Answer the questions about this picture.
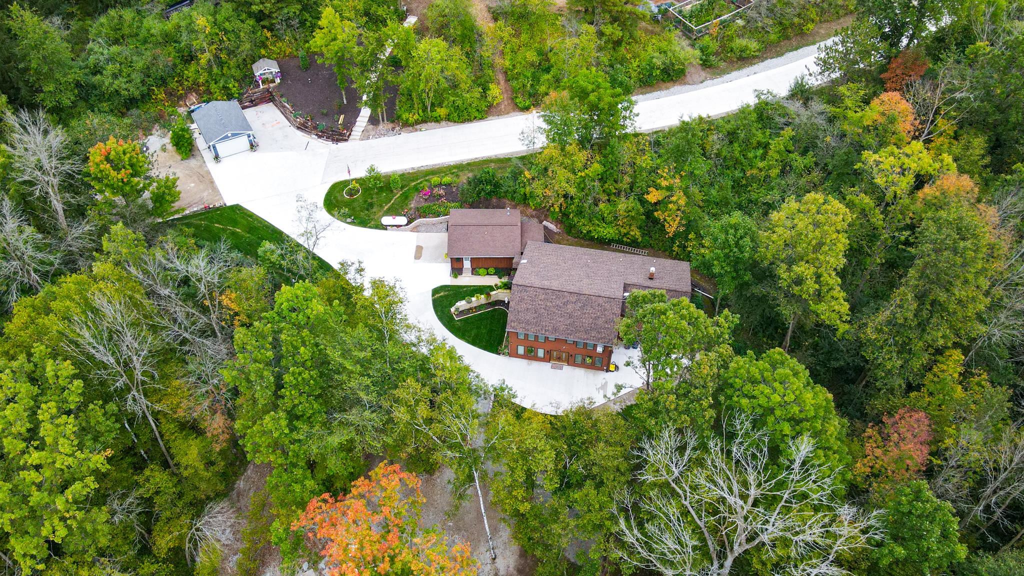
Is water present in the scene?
No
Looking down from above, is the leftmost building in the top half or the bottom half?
top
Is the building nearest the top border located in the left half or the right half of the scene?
left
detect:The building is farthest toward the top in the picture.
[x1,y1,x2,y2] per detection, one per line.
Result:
[250,55,280,87]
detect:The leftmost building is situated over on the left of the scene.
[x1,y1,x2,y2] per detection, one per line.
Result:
[191,101,255,159]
